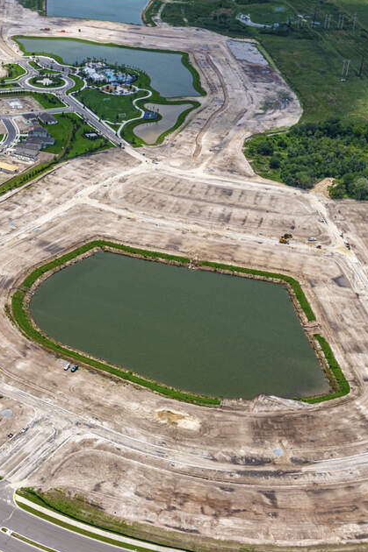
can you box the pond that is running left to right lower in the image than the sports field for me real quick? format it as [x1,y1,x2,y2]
[30,249,329,401]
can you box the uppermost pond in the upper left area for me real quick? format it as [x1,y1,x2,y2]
[44,0,148,24]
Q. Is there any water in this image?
Yes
